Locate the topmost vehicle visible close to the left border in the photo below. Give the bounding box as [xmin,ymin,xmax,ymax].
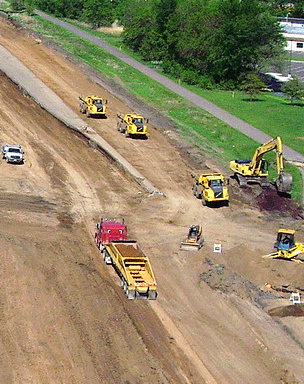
[0,142,26,164]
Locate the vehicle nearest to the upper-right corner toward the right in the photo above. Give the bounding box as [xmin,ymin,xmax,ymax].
[224,144,294,186]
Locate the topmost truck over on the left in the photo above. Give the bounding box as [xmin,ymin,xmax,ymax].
[83,88,109,114]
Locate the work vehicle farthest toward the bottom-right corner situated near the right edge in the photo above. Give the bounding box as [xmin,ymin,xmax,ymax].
[250,228,304,264]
